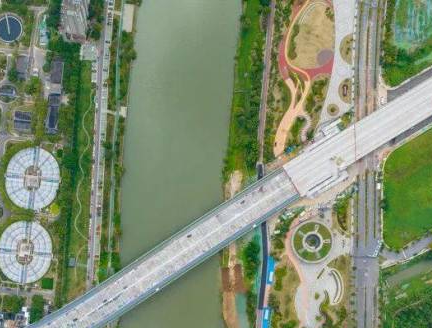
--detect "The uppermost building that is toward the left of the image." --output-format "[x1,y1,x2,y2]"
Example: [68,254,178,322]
[55,0,90,44]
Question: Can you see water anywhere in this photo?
Yes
